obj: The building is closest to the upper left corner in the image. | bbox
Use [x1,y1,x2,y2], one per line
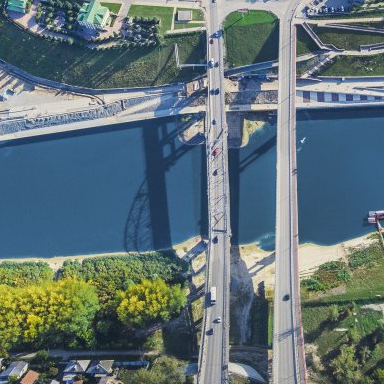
[4,0,31,17]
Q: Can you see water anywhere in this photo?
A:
Yes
